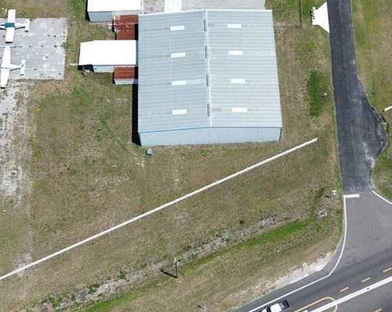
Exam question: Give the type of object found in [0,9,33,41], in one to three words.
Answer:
airplane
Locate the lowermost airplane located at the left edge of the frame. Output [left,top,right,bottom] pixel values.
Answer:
[0,46,29,87]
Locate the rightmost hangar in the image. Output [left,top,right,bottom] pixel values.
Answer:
[139,7,282,144]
